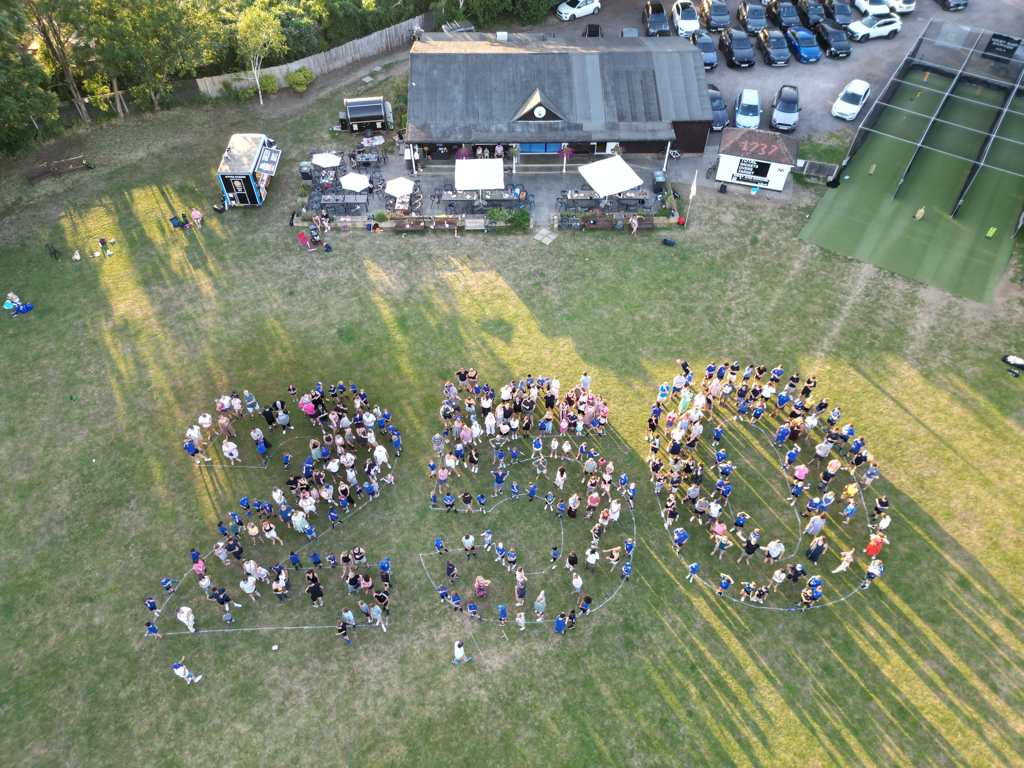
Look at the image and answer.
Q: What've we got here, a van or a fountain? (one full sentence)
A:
The image shows a van.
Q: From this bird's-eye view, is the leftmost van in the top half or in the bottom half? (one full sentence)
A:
The leftmost van is in the top half of the image.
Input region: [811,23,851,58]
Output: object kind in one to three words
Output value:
car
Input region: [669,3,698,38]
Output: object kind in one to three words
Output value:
car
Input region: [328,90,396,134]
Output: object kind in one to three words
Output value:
trailer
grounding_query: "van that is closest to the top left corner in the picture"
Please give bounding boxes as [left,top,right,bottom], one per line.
[212,125,286,202]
